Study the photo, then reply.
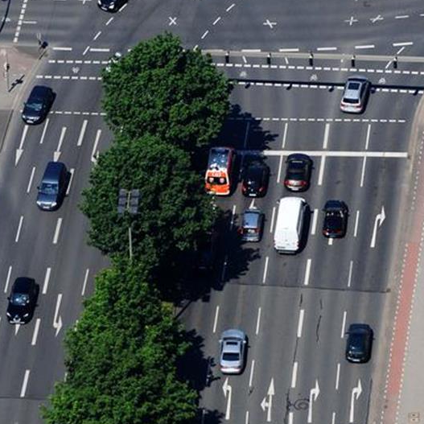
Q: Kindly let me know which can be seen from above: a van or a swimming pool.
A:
van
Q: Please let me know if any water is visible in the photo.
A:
No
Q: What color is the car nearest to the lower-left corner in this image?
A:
black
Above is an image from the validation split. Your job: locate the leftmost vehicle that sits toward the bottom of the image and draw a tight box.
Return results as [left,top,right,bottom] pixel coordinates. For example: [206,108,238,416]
[7,279,37,320]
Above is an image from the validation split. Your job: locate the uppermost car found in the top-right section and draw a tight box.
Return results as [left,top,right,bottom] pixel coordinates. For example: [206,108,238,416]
[341,73,371,115]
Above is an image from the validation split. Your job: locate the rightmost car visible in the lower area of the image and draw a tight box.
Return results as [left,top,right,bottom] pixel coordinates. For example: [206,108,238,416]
[346,323,375,361]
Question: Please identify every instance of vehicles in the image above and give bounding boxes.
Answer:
[239,206,267,244]
[208,148,238,194]
[22,79,54,126]
[36,160,68,208]
[285,150,314,194]
[322,200,351,237]
[341,73,371,115]
[346,323,375,361]
[275,195,309,255]
[96,0,124,11]
[242,161,270,198]
[219,328,249,374]
[7,279,37,320]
